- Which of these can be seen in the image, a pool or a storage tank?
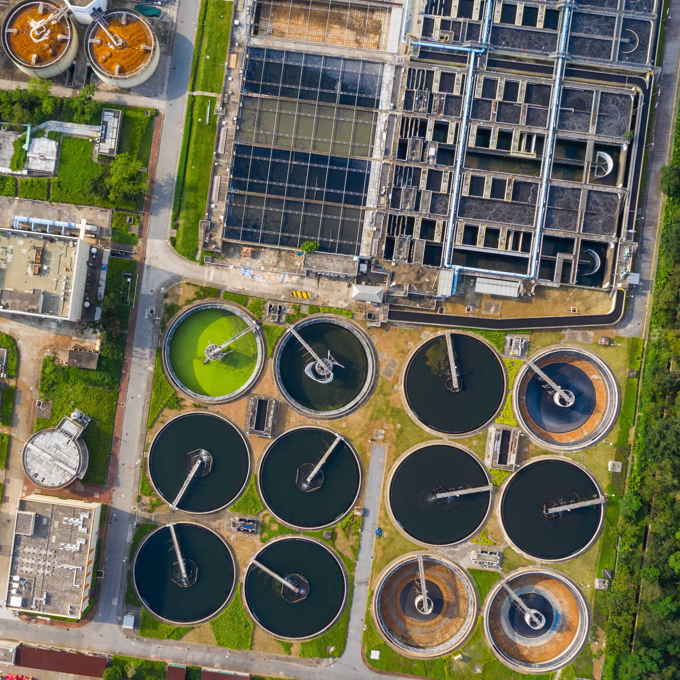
storage tank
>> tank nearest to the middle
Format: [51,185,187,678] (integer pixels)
[270,311,381,423]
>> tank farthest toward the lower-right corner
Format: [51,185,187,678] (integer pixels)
[481,562,593,675]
